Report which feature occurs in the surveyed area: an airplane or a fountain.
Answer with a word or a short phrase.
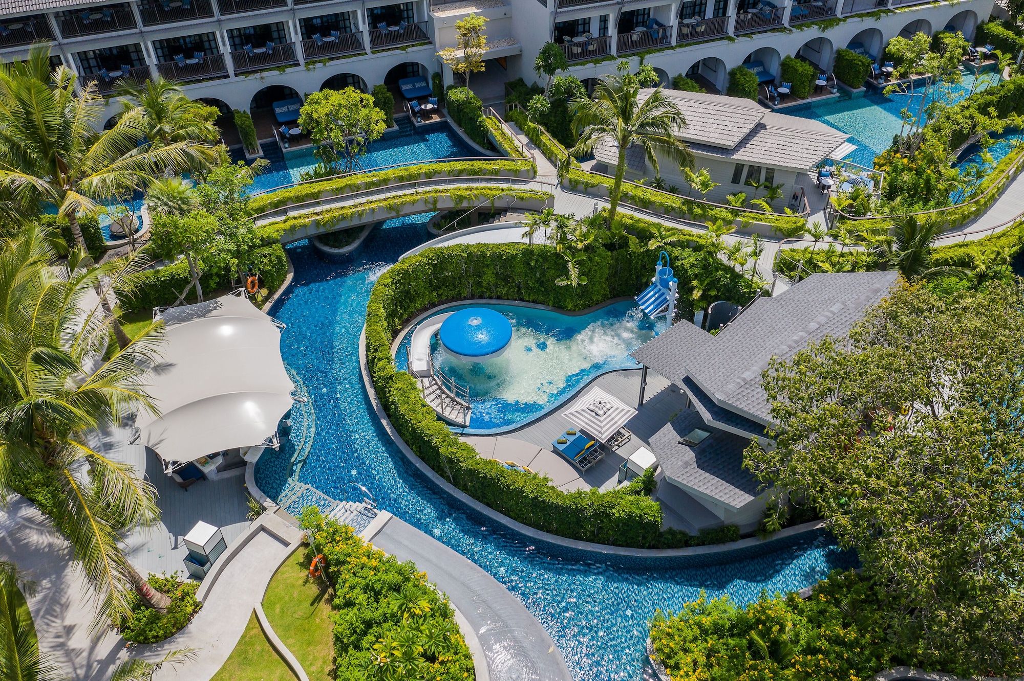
fountain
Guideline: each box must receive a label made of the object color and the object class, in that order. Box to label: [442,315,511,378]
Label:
blue fountain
